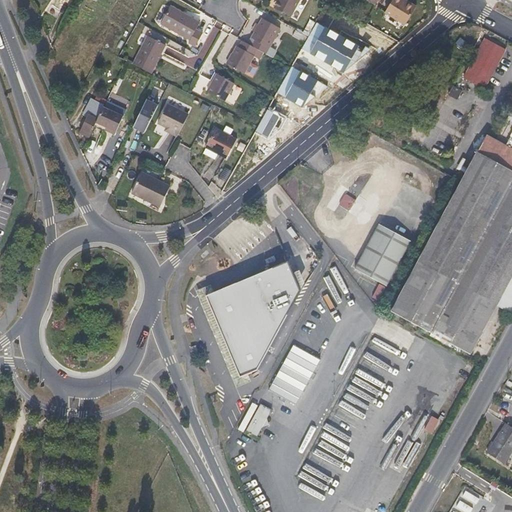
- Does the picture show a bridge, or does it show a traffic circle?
traffic circle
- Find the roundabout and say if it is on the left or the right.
left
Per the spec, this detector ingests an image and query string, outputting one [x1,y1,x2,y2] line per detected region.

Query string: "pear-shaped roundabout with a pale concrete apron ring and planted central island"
[6,201,208,398]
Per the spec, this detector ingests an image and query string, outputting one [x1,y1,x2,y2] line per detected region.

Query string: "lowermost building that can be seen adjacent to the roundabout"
[194,263,304,388]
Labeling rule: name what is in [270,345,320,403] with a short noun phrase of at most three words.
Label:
shed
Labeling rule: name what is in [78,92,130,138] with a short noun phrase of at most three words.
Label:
house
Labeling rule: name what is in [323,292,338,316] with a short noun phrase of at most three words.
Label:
vehicle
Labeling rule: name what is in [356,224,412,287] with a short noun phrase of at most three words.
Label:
building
